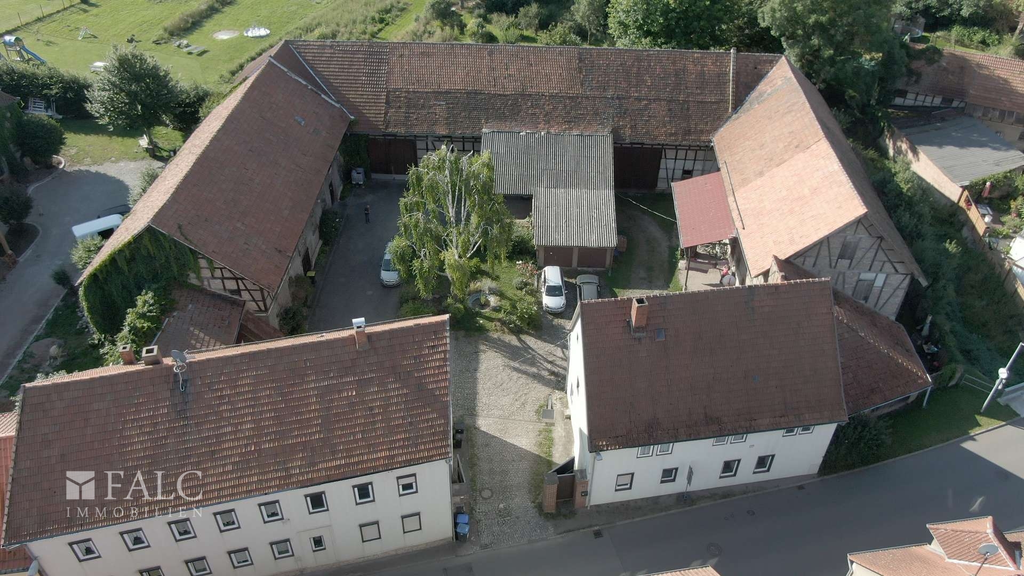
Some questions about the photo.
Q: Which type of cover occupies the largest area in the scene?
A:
buildings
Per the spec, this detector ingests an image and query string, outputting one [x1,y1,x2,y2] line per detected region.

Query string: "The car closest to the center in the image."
[541,266,569,310]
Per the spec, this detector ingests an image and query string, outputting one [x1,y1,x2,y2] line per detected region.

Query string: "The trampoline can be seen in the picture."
[242,26,270,38]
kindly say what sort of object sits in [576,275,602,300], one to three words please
car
